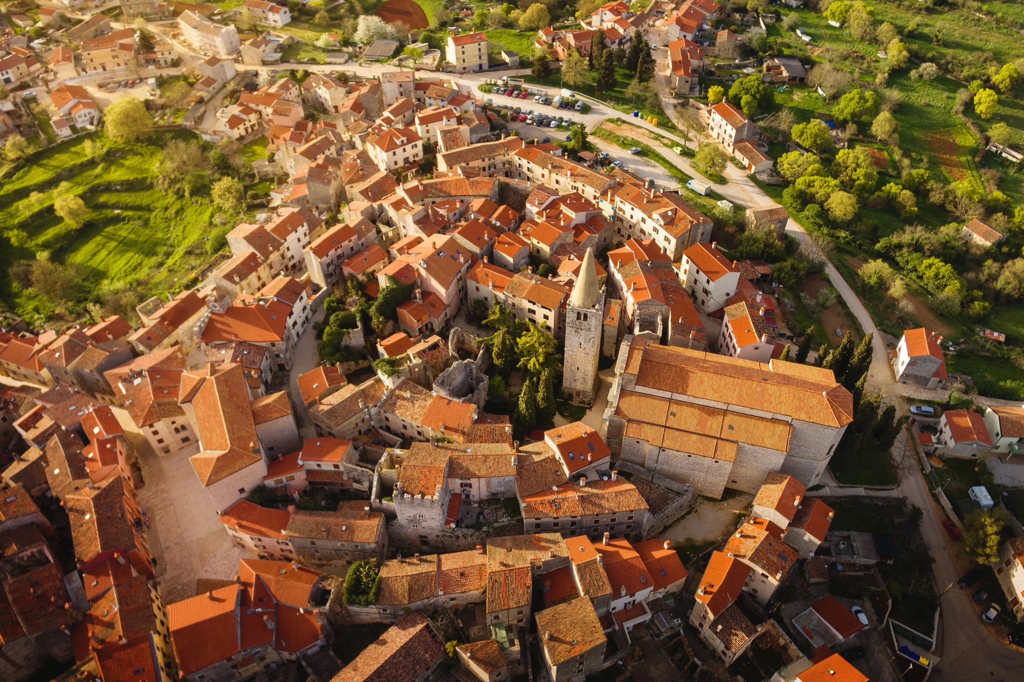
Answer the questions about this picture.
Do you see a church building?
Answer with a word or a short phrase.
Yes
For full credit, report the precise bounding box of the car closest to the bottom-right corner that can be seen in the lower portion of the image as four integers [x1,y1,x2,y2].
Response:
[1000,627,1024,649]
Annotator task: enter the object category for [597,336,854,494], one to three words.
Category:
church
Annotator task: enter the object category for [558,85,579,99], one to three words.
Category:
vehicle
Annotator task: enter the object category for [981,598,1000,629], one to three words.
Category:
car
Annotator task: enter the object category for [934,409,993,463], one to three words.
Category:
house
